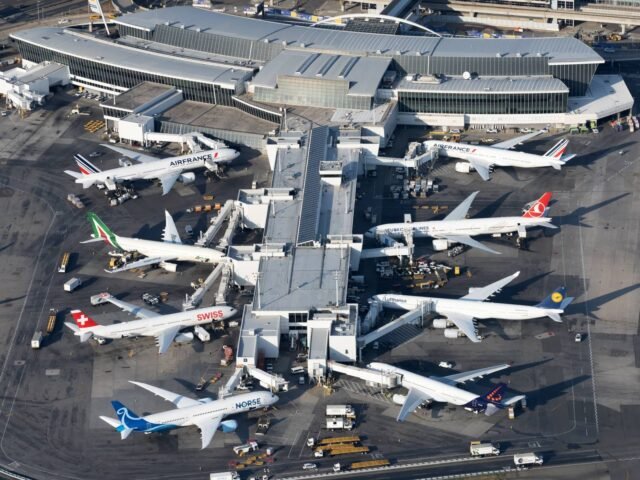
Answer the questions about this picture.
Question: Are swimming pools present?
No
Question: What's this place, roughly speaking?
airport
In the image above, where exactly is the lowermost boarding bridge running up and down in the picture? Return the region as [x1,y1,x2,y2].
[215,263,236,307]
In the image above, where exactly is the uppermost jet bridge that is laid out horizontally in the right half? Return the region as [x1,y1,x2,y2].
[368,146,447,180]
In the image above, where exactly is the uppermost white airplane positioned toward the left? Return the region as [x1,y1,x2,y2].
[67,144,238,195]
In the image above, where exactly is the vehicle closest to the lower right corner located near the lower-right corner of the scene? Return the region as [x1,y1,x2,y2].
[514,453,541,466]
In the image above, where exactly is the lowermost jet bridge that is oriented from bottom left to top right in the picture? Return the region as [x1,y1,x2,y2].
[218,362,248,401]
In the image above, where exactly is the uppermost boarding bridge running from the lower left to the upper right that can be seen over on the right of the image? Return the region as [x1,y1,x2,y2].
[403,141,429,162]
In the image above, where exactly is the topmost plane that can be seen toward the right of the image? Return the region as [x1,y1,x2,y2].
[428,129,574,179]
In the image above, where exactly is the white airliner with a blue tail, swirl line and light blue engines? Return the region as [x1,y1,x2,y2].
[106,379,279,448]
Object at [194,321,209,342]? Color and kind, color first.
white vehicle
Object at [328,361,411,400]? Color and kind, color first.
white jet bridge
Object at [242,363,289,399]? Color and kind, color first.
white jet bridge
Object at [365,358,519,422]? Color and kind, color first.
white airplane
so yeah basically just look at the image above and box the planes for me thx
[69,290,236,356]
[428,129,574,179]
[366,190,555,254]
[81,208,228,272]
[106,379,279,448]
[365,358,519,422]
[374,266,575,339]
[67,144,238,195]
